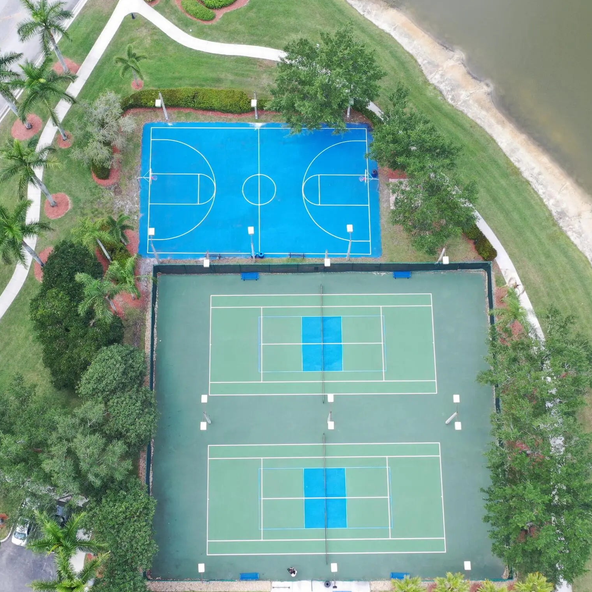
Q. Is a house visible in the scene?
No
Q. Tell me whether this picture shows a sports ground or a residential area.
sports ground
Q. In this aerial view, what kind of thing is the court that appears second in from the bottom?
tennis court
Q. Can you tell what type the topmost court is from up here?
basketball court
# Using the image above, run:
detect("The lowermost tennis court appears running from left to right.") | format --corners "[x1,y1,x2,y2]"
[149,418,511,579]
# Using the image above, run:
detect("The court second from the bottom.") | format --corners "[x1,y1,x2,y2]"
[153,271,495,420]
